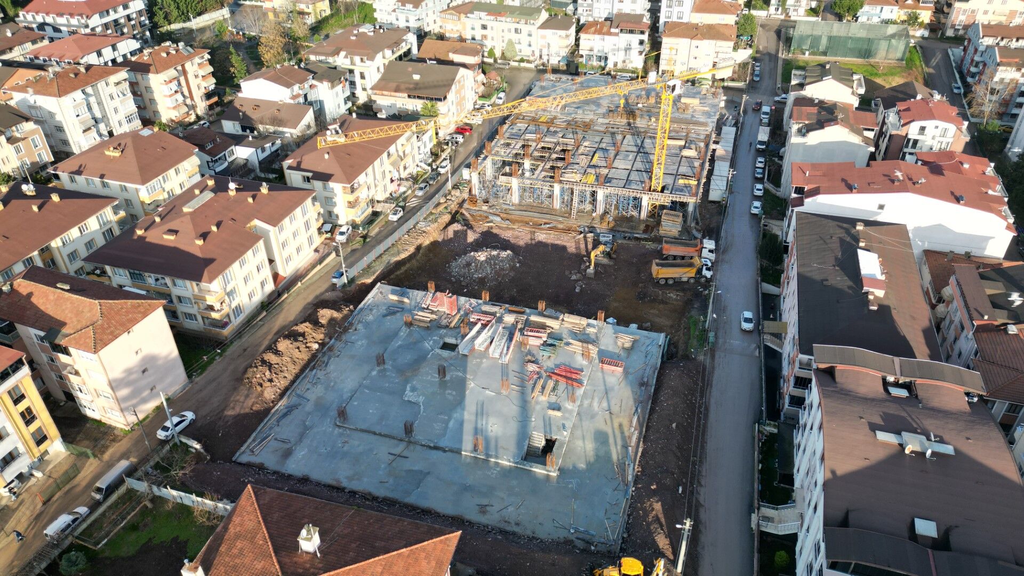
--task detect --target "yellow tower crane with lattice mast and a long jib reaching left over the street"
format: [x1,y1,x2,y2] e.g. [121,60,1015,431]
[314,48,749,217]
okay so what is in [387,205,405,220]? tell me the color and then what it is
white car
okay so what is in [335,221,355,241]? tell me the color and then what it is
white car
